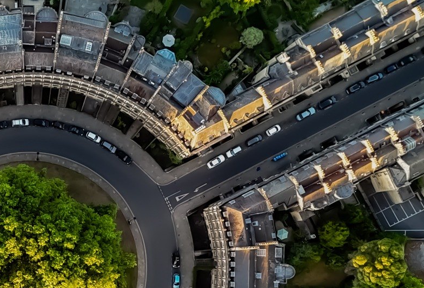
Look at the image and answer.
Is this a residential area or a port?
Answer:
residential area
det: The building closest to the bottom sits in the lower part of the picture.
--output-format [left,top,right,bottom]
[207,240,291,288]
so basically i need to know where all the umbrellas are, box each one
[161,35,174,47]
[277,228,288,239]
